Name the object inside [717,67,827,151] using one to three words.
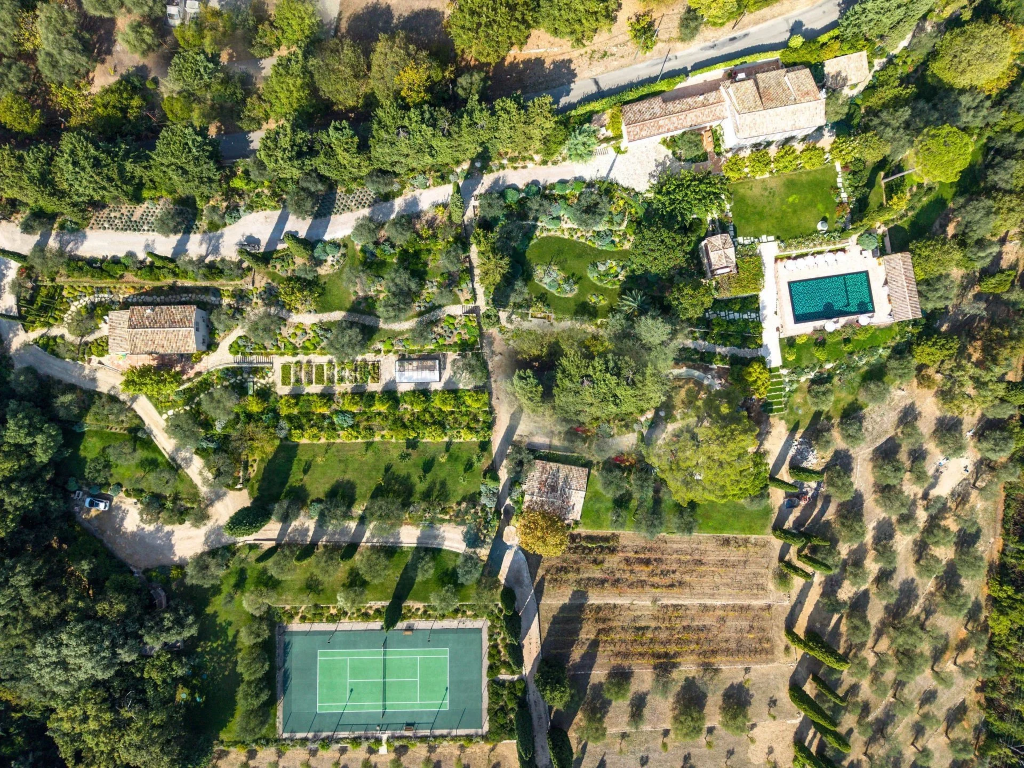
house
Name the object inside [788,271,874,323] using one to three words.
swimming pool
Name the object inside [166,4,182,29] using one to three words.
car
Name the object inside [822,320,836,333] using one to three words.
umbrella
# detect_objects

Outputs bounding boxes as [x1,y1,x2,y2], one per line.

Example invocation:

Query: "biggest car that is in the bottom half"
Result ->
[86,497,111,510]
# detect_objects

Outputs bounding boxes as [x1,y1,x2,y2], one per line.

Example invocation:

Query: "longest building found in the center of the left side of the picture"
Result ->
[111,305,207,355]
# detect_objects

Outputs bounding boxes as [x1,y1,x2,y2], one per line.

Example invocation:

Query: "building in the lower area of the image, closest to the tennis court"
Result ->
[523,458,590,522]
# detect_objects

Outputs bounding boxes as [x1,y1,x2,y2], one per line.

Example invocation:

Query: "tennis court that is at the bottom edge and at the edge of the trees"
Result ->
[274,619,491,744]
